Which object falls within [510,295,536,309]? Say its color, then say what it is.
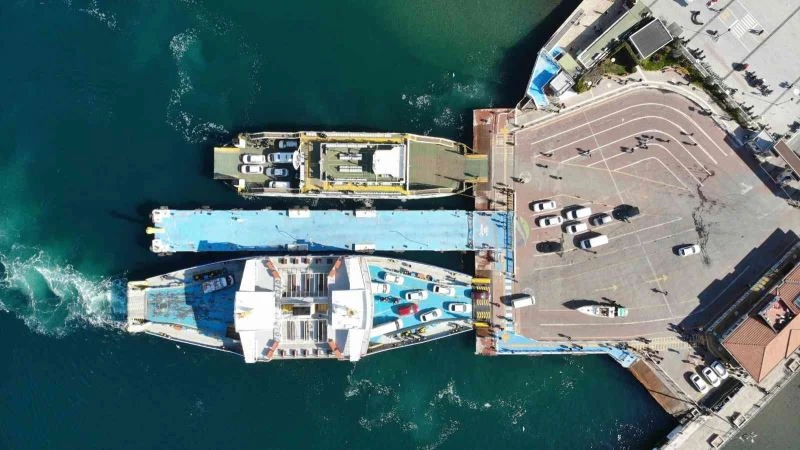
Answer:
white vehicle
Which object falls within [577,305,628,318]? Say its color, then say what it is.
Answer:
white boat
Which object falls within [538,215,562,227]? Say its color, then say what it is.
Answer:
white vehicle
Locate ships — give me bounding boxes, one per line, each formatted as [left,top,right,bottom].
[128,254,492,363]
[214,131,488,199]
[145,205,498,255]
